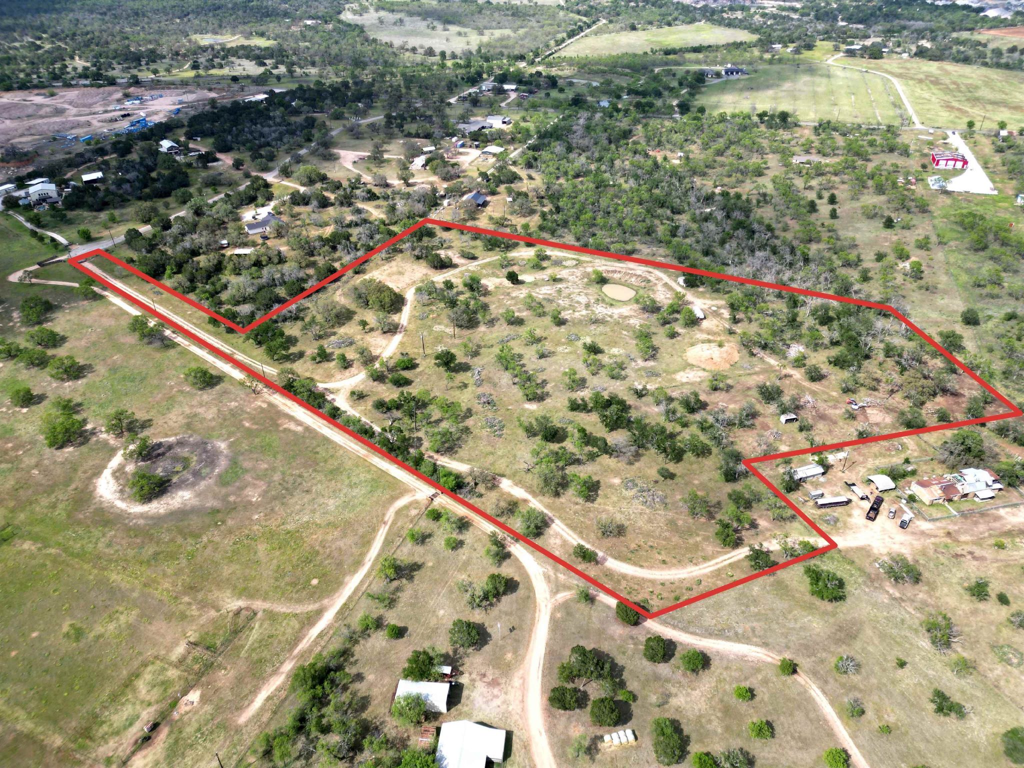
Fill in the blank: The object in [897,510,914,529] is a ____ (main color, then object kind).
white vehicle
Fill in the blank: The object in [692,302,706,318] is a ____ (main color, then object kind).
white vehicle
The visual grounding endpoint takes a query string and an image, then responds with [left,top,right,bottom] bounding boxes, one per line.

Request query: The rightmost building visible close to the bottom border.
[434,720,506,768]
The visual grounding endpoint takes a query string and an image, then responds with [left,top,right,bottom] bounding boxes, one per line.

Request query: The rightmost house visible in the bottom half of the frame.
[904,449,995,506]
